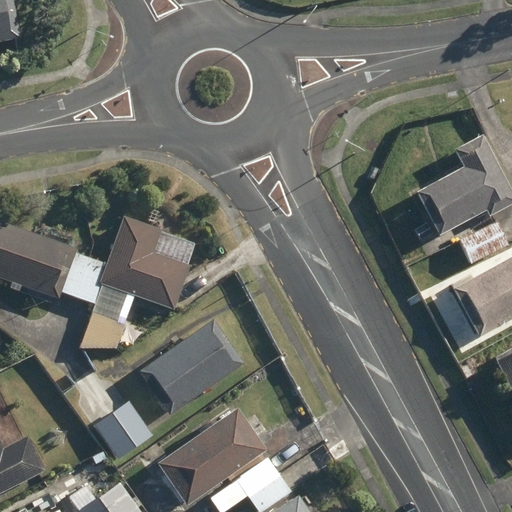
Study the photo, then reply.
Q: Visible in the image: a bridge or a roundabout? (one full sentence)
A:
It is a roundabout that can be seen here.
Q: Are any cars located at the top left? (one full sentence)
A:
No, no car is visible at the top left.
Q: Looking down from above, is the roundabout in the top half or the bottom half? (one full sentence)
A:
Seen from above, the roundabout lies in the top half of the view.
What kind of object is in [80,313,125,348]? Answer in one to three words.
building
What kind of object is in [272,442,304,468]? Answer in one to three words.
car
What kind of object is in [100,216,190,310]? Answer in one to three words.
house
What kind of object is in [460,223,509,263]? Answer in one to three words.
shed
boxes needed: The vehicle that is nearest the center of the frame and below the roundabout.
[180,274,210,299]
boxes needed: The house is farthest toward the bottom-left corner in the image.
[0,436,46,495]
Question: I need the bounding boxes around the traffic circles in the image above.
[174,46,254,126]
